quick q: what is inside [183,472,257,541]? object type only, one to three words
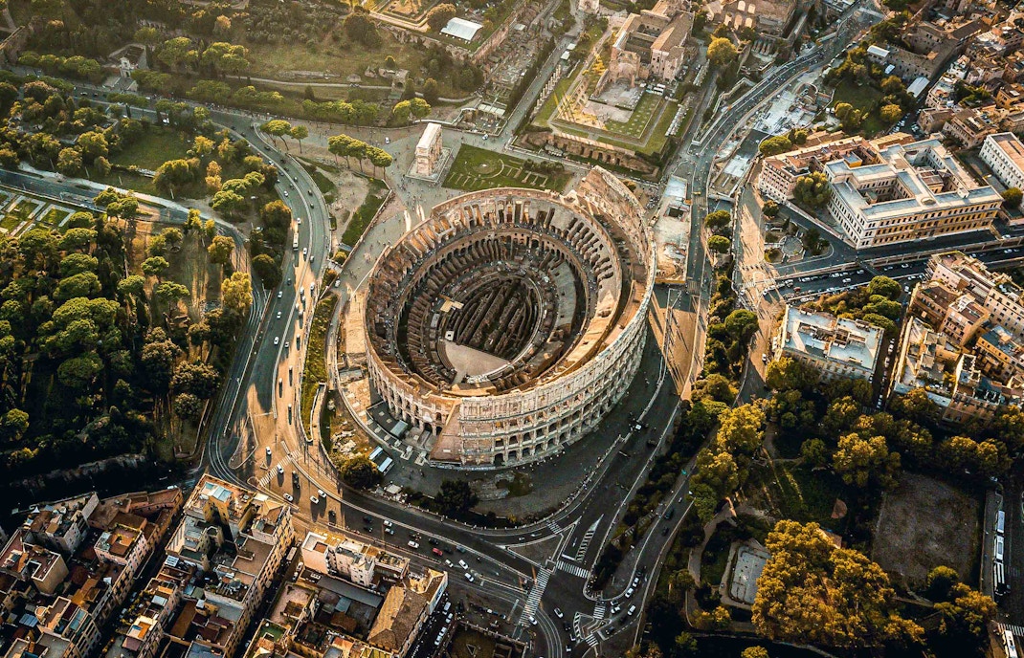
building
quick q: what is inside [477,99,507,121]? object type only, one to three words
building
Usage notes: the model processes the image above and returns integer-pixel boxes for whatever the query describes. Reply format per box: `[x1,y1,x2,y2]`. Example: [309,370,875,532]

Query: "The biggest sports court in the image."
[723,542,777,606]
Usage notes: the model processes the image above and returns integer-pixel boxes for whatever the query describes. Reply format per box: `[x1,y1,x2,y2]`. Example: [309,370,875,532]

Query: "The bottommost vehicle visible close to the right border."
[1005,628,1018,657]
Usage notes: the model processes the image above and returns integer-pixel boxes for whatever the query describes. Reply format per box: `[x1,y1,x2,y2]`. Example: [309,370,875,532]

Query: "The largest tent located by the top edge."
[439,17,484,46]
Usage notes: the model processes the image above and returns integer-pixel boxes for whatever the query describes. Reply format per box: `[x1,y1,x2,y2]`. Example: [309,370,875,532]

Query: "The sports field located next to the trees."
[875,491,979,581]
